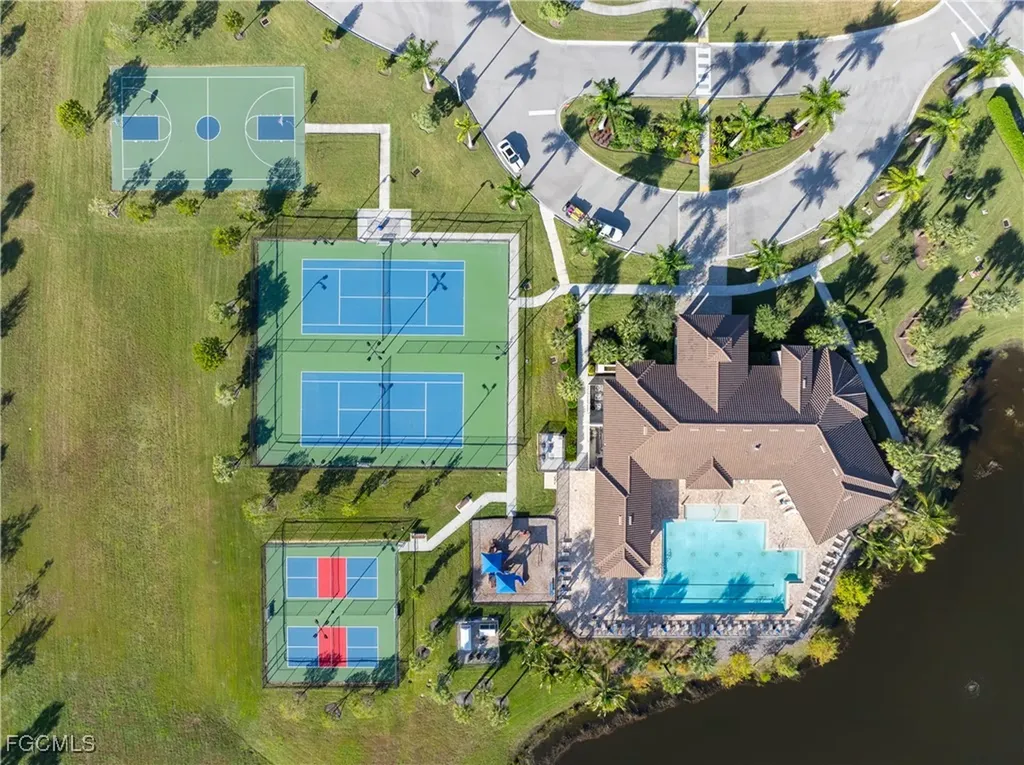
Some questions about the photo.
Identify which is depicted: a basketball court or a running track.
basketball court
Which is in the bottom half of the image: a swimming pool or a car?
swimming pool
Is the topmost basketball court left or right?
left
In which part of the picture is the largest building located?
right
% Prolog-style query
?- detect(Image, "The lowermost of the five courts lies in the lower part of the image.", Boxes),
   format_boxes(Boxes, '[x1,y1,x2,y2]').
[265,615,396,683]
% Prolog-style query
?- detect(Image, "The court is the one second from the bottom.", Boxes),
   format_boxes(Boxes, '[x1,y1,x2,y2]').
[265,546,397,615]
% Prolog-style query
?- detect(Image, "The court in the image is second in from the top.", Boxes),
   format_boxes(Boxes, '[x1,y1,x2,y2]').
[257,240,506,354]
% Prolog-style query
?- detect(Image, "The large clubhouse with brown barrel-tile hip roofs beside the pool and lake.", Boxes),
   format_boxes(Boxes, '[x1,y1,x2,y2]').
[594,314,897,578]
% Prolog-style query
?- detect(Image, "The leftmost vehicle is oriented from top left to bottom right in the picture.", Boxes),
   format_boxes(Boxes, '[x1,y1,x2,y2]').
[498,138,525,170]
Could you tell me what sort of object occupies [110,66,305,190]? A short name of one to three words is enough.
basketball court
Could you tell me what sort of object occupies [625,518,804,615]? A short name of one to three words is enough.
swimming pool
